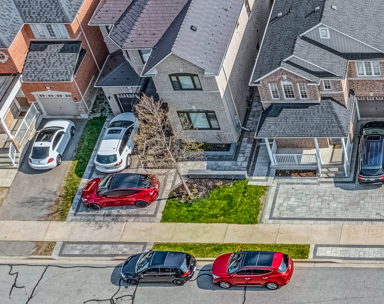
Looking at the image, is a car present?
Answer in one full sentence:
Yes, the image includes a car.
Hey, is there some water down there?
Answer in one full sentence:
No, the picture contains no water.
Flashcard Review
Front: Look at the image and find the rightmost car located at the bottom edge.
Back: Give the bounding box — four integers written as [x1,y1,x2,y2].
[206,257,294,301]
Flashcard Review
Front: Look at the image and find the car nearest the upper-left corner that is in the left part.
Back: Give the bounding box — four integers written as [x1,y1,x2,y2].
[29,119,78,170]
